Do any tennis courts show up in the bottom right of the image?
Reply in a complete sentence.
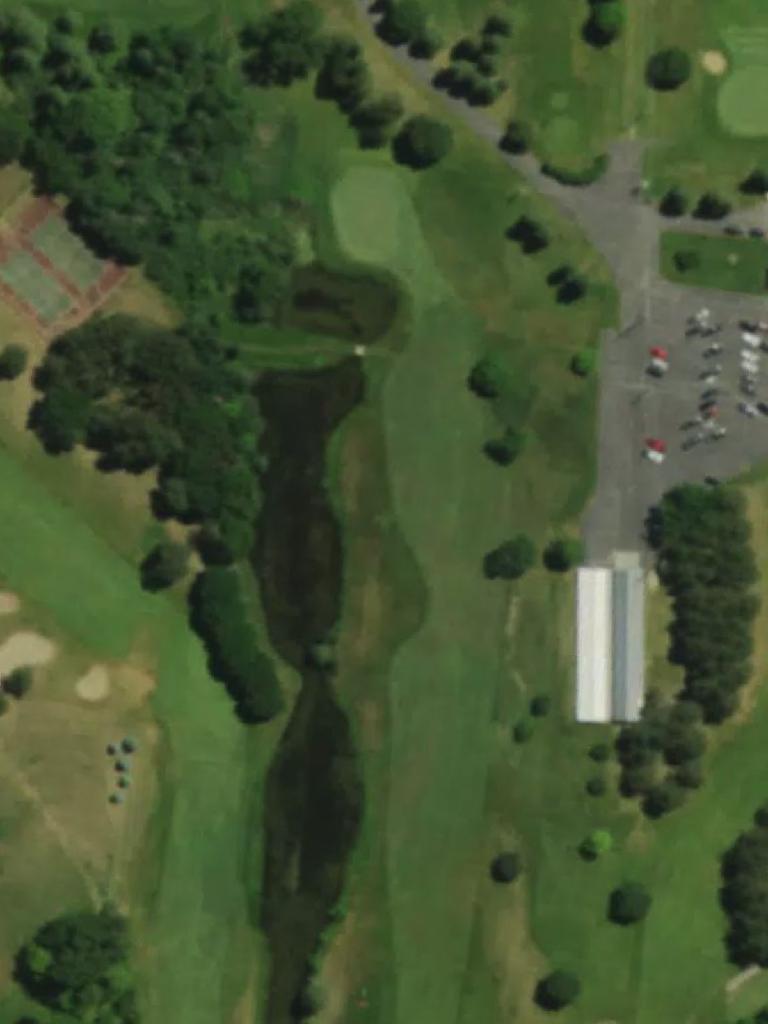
No, looking in the bottom right of the image, there is no tennis court.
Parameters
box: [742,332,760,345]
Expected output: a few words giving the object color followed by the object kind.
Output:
white vehicle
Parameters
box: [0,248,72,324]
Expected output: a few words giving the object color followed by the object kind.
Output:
green tennis court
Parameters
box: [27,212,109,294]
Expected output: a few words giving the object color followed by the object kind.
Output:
green tennis court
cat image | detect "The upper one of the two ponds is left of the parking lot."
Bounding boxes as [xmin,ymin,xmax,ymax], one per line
[280,264,404,341]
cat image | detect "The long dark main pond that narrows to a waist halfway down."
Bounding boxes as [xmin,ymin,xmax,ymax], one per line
[253,357,367,1024]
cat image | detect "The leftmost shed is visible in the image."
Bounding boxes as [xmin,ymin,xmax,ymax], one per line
[577,568,611,722]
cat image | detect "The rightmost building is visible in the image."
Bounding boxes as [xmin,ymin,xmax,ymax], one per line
[614,567,644,722]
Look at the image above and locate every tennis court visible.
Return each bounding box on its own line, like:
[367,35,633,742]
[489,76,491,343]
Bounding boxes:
[27,212,109,294]
[0,248,72,324]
